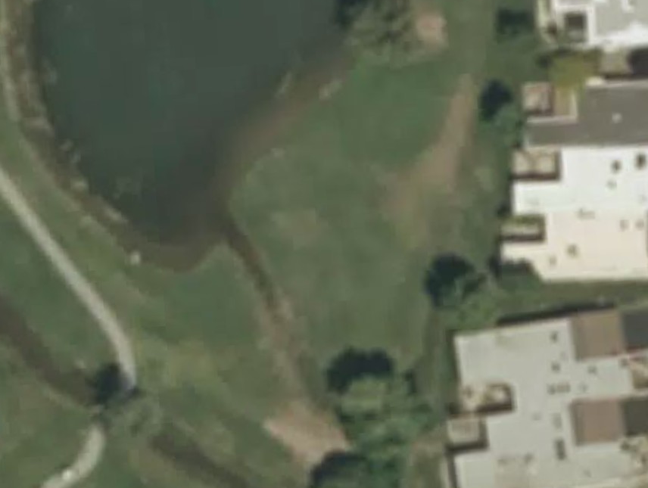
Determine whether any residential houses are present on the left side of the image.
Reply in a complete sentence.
No, no residential house appears on the left side of the image.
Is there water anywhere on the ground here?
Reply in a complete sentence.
Yes, the picture does contain water.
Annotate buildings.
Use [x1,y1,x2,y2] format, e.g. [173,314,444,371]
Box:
[441,306,648,488]
[537,0,648,77]
[512,147,648,214]
[523,78,648,145]
[501,210,648,280]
